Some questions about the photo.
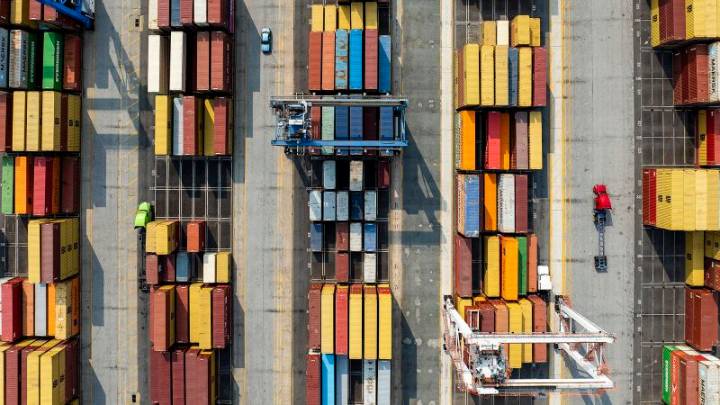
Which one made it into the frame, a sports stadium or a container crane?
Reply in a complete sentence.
There is a container crane in the scene.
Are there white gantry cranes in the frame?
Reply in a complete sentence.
Yes, there's a white gantry crane down there.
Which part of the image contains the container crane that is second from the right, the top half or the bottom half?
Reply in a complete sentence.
You can find the container crane that is second from the right in the top half.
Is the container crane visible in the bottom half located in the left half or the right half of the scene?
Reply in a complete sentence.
It is on the right.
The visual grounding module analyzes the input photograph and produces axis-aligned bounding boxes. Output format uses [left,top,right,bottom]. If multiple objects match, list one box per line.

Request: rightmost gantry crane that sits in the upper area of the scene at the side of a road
[268,86,411,159]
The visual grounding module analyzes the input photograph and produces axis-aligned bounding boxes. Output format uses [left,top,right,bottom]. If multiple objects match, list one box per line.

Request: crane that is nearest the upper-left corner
[41,0,94,31]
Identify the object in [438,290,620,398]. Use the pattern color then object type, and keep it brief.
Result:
white container crane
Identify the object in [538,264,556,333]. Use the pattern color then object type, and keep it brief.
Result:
white vehicle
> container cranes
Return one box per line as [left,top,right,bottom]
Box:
[268,86,411,159]
[41,0,94,31]
[438,290,620,398]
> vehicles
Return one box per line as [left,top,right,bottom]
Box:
[595,183,615,271]
[260,27,271,53]
[134,201,152,289]
[538,264,556,333]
